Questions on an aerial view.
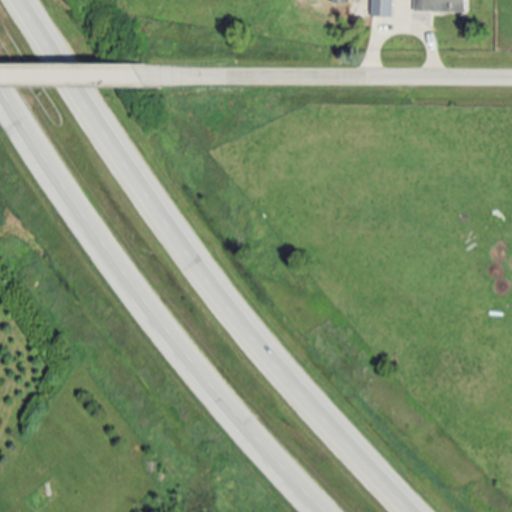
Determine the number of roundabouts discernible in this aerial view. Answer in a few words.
none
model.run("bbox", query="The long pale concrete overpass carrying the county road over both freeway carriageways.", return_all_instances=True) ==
[0,62,152,90]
